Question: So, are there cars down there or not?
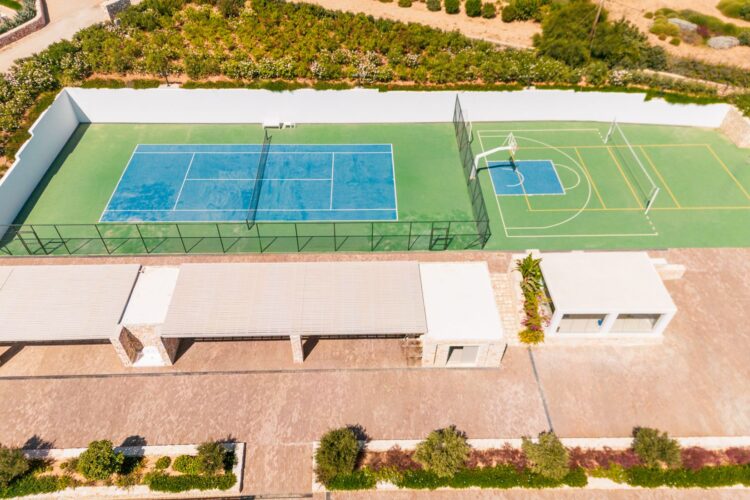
No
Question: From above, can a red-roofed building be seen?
No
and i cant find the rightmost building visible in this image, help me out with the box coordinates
[532,252,677,338]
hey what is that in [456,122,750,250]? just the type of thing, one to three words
basketball court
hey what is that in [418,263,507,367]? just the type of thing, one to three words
building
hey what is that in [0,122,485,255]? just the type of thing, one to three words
tennis court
